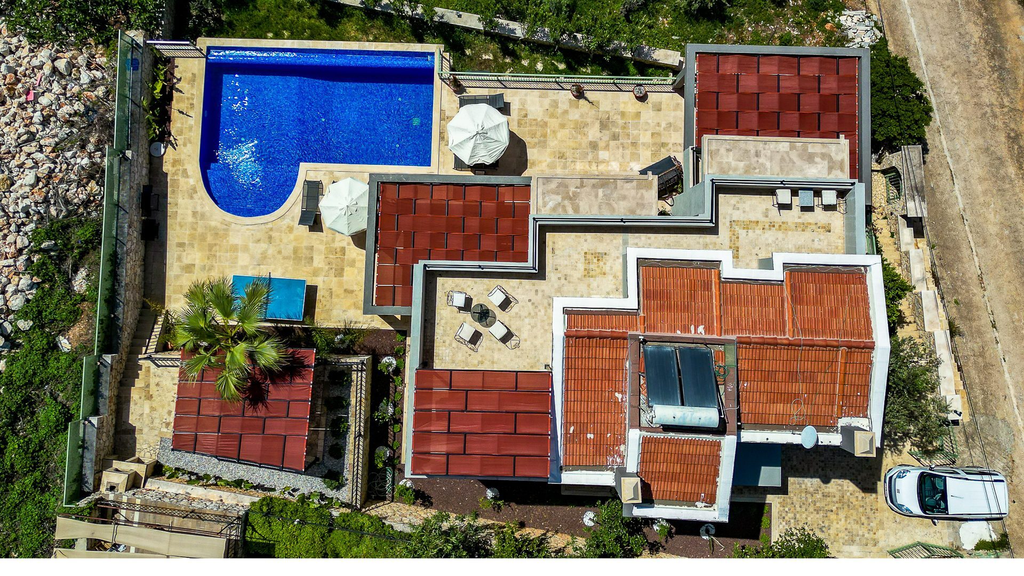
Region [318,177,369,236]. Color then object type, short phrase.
white umbrella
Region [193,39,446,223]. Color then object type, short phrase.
blue swimming pool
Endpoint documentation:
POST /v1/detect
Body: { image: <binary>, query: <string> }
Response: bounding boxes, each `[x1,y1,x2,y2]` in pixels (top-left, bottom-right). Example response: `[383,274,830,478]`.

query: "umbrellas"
[448,105,508,164]
[318,177,369,236]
